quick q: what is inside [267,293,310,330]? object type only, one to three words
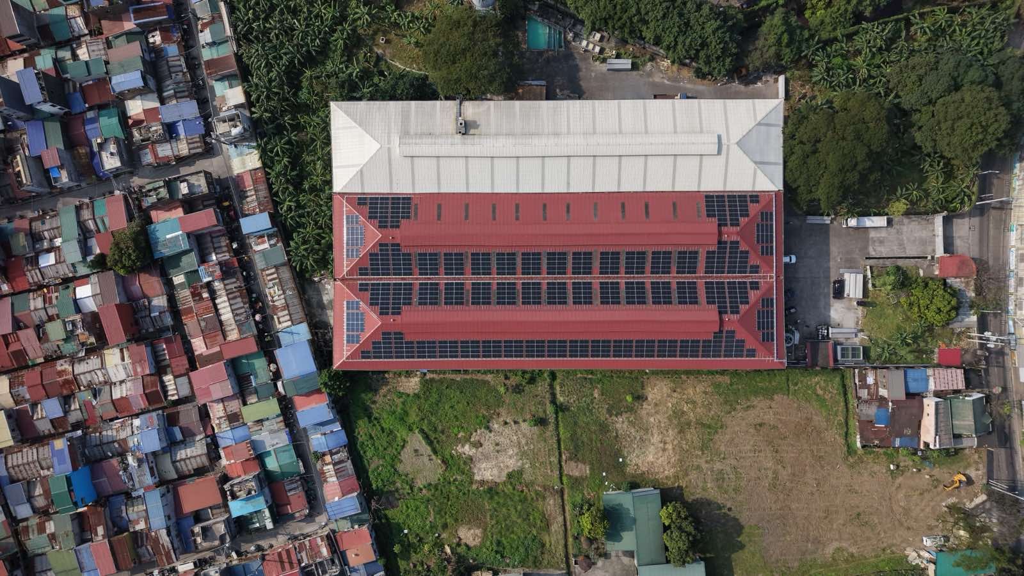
house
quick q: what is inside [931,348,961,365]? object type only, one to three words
building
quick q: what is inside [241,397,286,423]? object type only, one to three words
house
